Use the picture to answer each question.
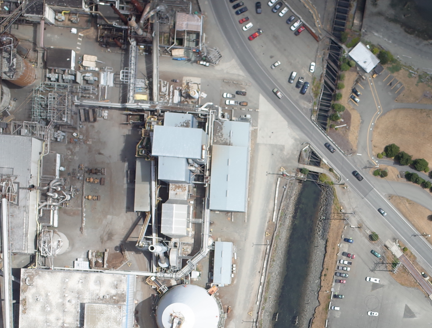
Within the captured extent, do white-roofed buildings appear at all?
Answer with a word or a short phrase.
Yes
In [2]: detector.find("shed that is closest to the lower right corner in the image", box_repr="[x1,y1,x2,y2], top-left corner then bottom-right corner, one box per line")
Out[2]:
[214,242,235,284]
